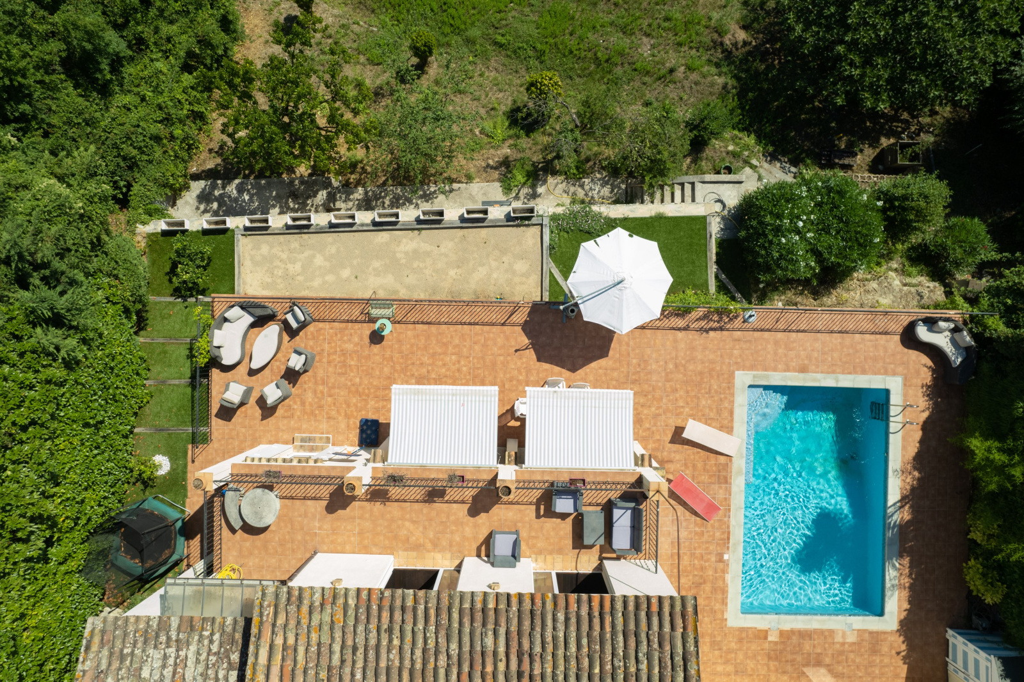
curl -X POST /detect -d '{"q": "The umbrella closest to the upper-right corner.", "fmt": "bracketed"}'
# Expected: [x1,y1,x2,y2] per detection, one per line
[550,227,673,334]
